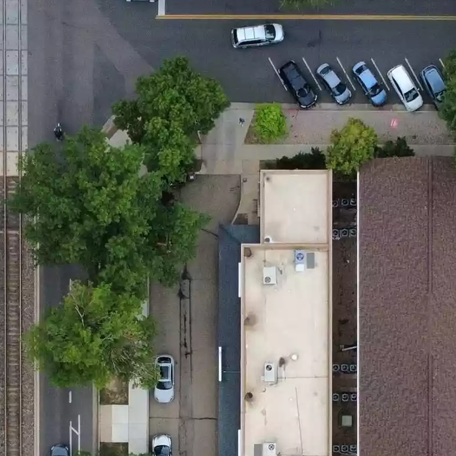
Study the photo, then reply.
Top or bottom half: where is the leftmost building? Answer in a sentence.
The bottom half of the photo is where the leftmost building is.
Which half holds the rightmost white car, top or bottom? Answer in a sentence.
Seen from above, the rightmost white car lies in the top half of the view.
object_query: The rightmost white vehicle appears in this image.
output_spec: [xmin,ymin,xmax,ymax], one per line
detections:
[385,61,422,115]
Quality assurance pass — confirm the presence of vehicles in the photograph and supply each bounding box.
[279,57,317,113]
[230,18,284,52]
[385,61,422,115]
[51,443,71,456]
[151,435,174,456]
[315,60,351,109]
[350,60,386,110]
[418,61,455,116]
[154,354,176,403]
